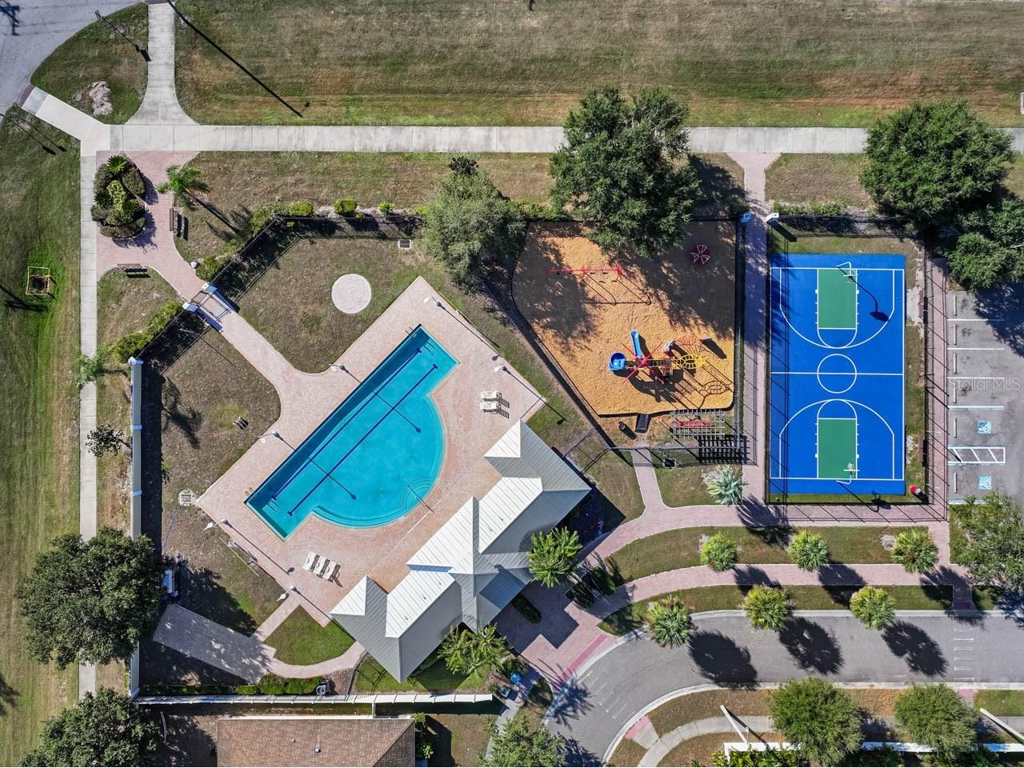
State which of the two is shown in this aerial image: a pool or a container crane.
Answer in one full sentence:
I can see a pool in this picture.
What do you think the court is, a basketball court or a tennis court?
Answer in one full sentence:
From above, the court can be identified as a basketball court.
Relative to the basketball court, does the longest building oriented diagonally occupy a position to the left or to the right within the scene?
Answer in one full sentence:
The longest building oriented diagonally is to the left of the basketball court.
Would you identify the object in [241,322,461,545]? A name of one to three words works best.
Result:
swimming pool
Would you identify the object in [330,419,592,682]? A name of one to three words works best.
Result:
building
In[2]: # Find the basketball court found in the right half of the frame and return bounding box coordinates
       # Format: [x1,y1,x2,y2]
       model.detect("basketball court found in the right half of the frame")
[769,254,905,494]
